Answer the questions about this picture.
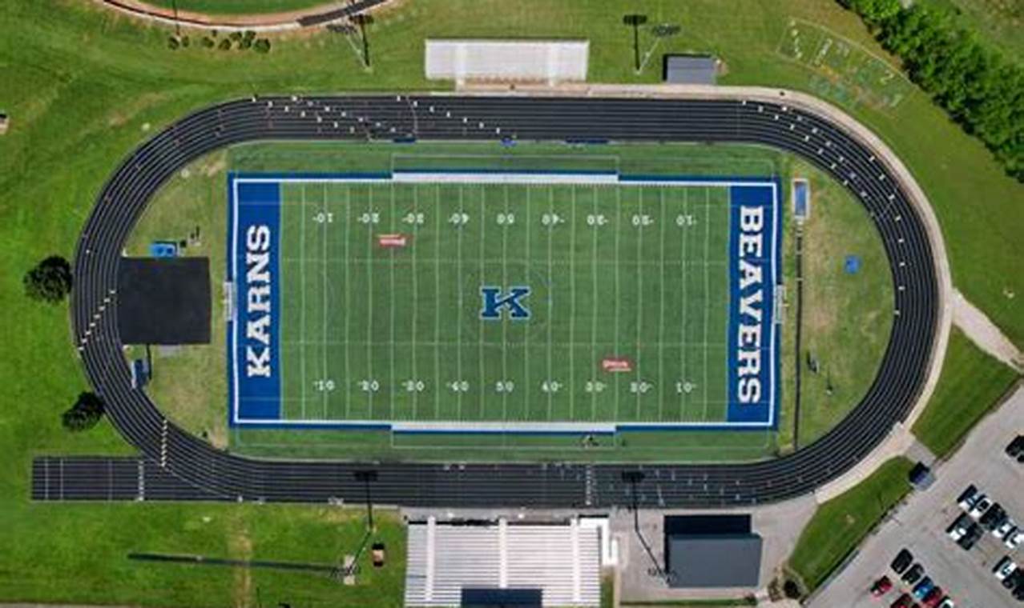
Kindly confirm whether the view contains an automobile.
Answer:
Yes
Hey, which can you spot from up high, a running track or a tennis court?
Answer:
running track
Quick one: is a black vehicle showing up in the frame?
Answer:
Yes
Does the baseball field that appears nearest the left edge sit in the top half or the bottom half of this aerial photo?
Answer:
top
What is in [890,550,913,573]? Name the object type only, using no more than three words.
car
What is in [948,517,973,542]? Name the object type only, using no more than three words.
vehicle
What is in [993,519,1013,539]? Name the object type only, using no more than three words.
car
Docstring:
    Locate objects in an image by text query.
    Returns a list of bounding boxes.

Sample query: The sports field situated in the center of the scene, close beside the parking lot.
[229,141,781,462]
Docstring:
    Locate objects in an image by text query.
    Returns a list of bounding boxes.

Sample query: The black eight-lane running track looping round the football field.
[32,95,938,506]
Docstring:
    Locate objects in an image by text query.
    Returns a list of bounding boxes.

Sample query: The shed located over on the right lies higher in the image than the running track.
[666,55,717,87]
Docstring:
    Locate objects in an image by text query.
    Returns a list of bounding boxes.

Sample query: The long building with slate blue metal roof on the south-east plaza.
[664,525,764,588]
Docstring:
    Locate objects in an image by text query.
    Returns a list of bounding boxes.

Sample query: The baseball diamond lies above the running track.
[115,0,356,23]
